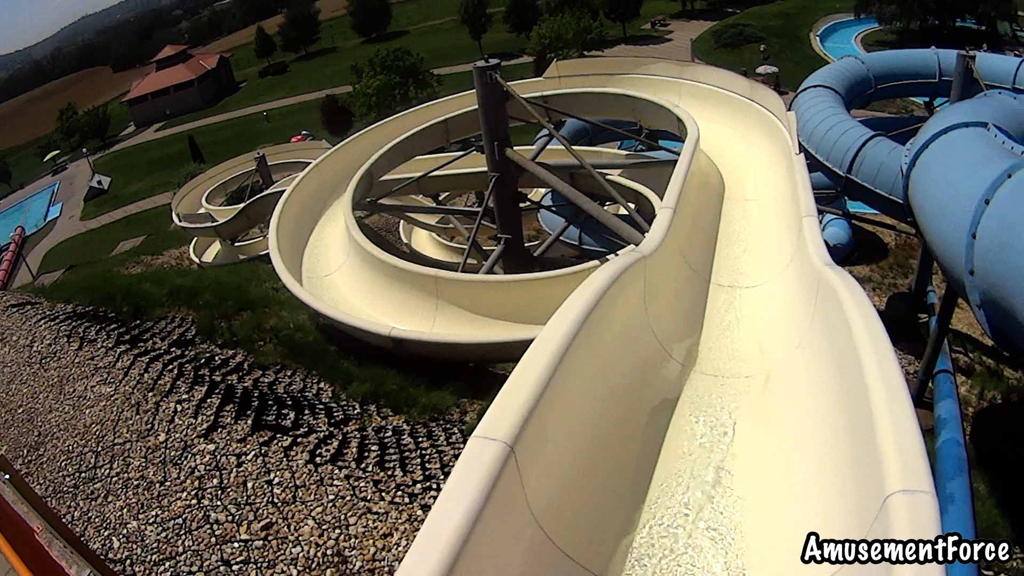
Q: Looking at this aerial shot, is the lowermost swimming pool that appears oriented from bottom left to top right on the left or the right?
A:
left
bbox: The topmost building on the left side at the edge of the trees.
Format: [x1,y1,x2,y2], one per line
[111,34,240,128]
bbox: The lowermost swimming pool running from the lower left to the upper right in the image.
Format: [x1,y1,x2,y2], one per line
[0,179,62,245]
